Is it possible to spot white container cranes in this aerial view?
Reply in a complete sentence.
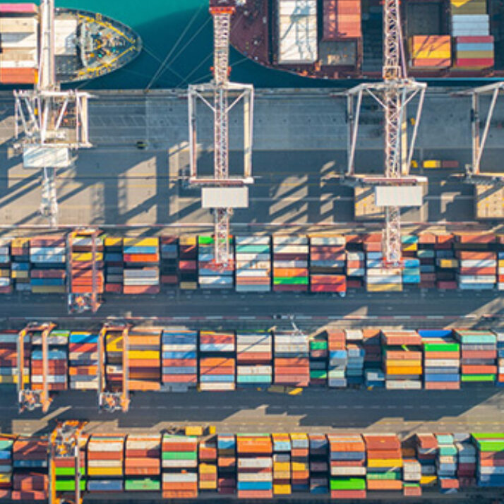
Yes, a white container crane appears in the view.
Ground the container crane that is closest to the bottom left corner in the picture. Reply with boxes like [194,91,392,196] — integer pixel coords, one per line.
[47,420,90,504]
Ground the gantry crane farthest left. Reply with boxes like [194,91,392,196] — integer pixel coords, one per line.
[18,318,61,408]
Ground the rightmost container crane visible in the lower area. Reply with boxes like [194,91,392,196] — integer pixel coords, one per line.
[98,318,137,410]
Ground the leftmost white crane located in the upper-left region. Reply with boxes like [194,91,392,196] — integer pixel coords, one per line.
[19,0,114,224]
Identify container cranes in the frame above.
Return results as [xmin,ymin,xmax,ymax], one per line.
[67,225,107,311]
[18,318,61,408]
[181,0,260,266]
[98,318,137,410]
[47,420,90,504]
[454,83,504,185]
[19,0,114,224]
[333,0,432,268]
